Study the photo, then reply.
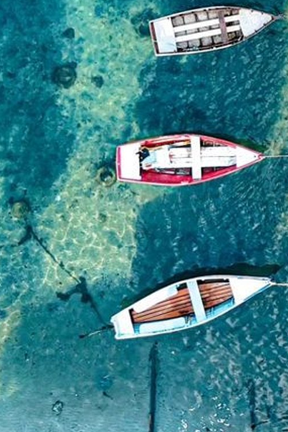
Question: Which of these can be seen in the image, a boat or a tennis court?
boat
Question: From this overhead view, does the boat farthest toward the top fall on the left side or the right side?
right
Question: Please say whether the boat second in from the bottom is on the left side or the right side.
right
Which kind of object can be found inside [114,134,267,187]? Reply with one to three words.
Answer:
boat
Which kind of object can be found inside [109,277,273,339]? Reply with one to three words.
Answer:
boat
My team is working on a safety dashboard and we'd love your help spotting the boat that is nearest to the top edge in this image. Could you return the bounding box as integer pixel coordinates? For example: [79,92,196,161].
[148,6,278,57]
